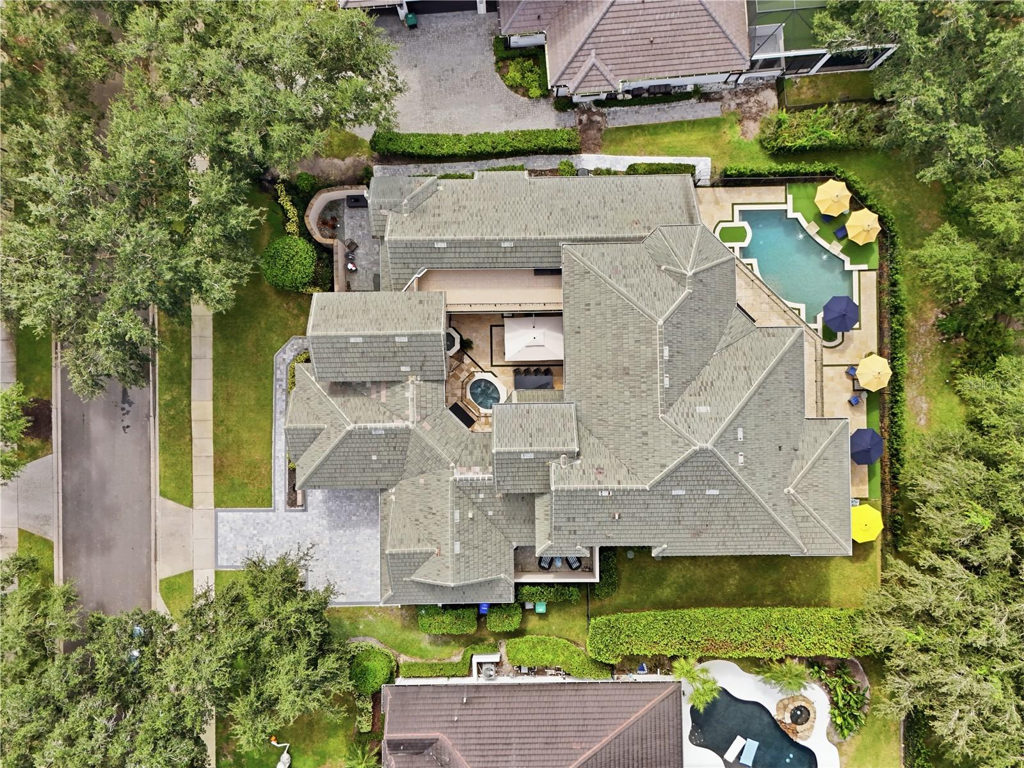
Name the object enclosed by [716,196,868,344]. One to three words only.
swimming pool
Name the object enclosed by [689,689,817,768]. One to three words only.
swimming pool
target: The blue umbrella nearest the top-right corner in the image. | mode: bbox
[823,296,858,331]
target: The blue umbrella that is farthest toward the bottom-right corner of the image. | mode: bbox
[851,429,883,464]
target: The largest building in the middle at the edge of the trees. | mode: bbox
[284,169,853,606]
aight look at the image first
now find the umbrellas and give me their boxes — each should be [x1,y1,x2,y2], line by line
[823,296,858,331]
[813,179,851,217]
[852,502,885,544]
[844,209,882,245]
[851,429,883,464]
[854,353,893,392]
[504,304,563,359]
